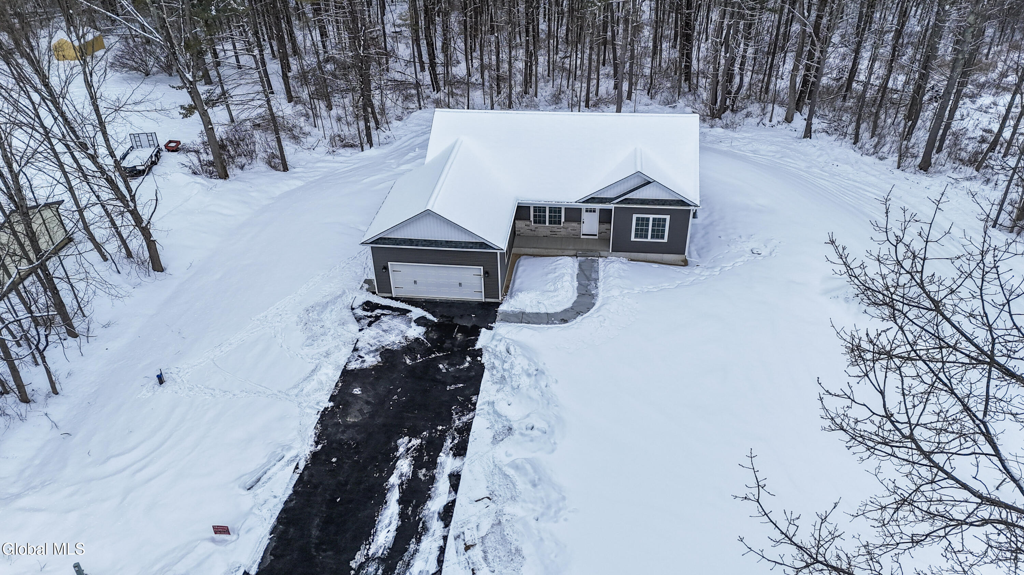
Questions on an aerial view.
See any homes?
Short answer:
Yes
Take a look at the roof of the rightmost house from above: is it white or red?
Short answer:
white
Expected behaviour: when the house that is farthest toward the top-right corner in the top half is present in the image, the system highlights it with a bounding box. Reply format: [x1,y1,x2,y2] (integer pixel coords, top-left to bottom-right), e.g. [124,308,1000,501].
[360,104,711,302]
